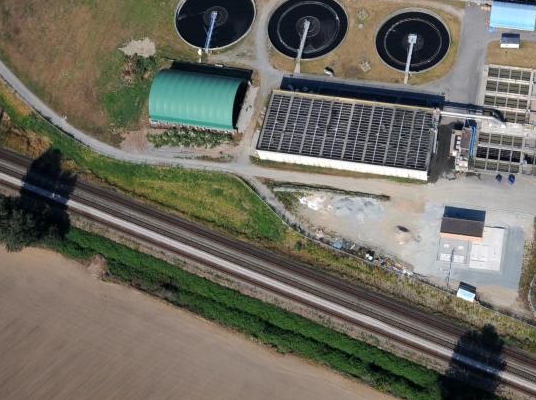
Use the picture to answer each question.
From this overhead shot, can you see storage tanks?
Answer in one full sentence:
Yes, a storage tank appears in the view.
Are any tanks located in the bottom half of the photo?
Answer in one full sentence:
No, looking in the bottom half of the photo, there is no tank.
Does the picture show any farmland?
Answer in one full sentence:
Yes, farmland can be seen from above here.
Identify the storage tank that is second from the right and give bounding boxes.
[267,0,350,72]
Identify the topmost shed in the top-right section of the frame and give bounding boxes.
[490,2,536,33]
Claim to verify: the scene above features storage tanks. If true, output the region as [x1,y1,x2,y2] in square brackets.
[374,8,453,83]
[267,0,350,72]
[174,0,257,53]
